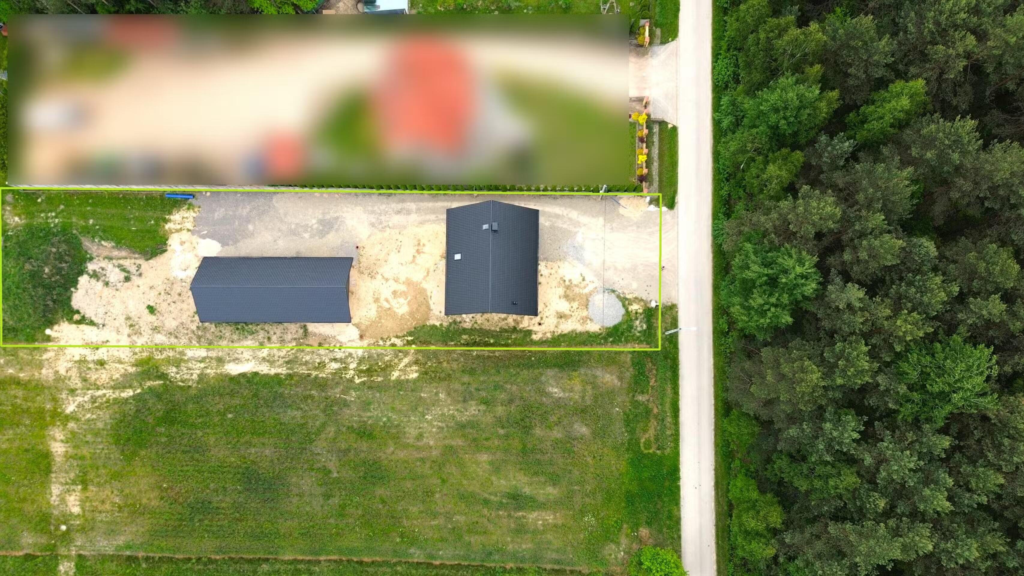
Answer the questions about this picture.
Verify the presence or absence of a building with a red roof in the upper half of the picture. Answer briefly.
Yes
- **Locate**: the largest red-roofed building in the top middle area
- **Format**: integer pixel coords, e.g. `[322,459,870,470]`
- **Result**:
[378,34,475,156]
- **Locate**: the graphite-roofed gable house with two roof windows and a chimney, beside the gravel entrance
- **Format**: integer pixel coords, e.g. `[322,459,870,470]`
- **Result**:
[444,200,540,317]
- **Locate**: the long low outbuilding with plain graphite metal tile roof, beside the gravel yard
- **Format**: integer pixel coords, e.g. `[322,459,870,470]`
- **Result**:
[189,256,356,324]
